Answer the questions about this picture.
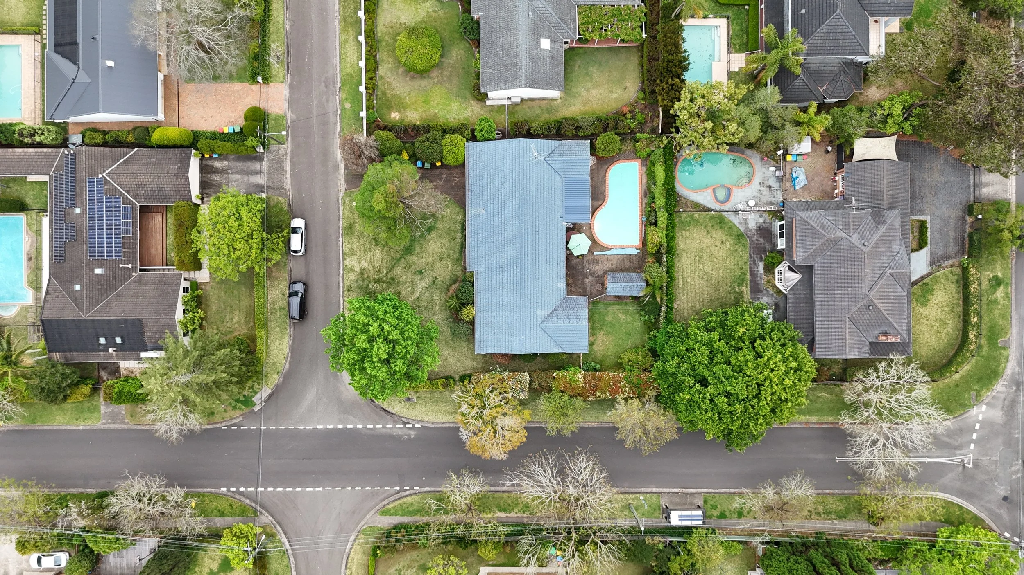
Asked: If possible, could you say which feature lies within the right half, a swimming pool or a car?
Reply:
swimming pool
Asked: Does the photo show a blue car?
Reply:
No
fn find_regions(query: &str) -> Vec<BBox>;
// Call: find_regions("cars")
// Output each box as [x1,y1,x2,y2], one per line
[288,218,308,256]
[30,551,68,572]
[287,279,308,323]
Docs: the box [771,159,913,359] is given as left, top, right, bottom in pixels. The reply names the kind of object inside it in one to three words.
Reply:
house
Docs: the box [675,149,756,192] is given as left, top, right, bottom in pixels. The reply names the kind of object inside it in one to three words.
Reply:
swimming pool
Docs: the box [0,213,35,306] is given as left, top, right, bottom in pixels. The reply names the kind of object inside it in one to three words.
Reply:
swimming pool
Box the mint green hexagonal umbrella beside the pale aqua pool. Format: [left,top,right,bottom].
[568,233,592,255]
